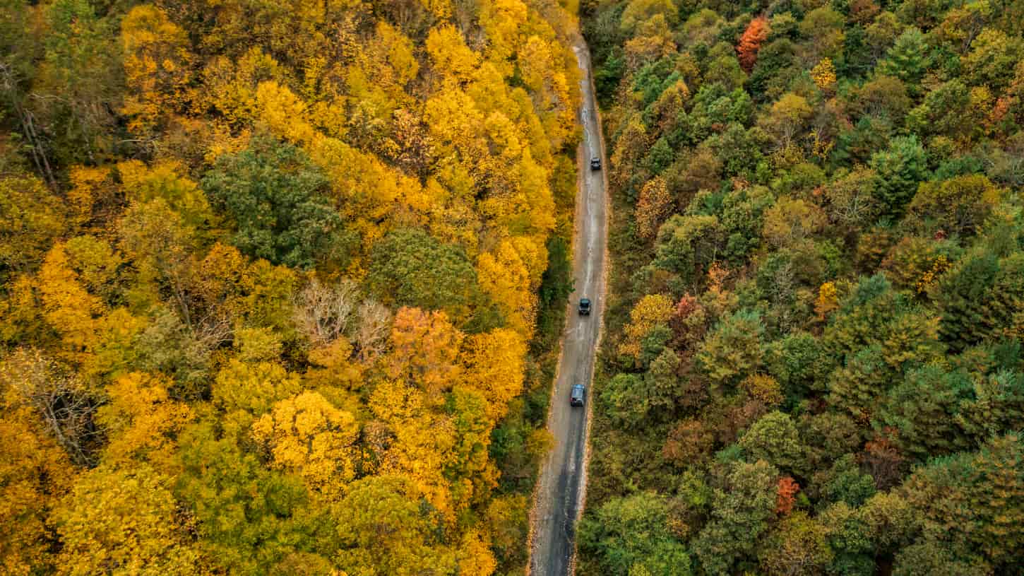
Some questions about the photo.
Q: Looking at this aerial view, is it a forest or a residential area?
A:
forest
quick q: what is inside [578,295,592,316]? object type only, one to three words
car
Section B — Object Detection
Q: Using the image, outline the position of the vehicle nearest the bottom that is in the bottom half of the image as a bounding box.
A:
[570,385,585,407]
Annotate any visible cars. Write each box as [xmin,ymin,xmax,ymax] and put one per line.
[570,385,585,407]
[578,295,592,316]
[590,155,601,170]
